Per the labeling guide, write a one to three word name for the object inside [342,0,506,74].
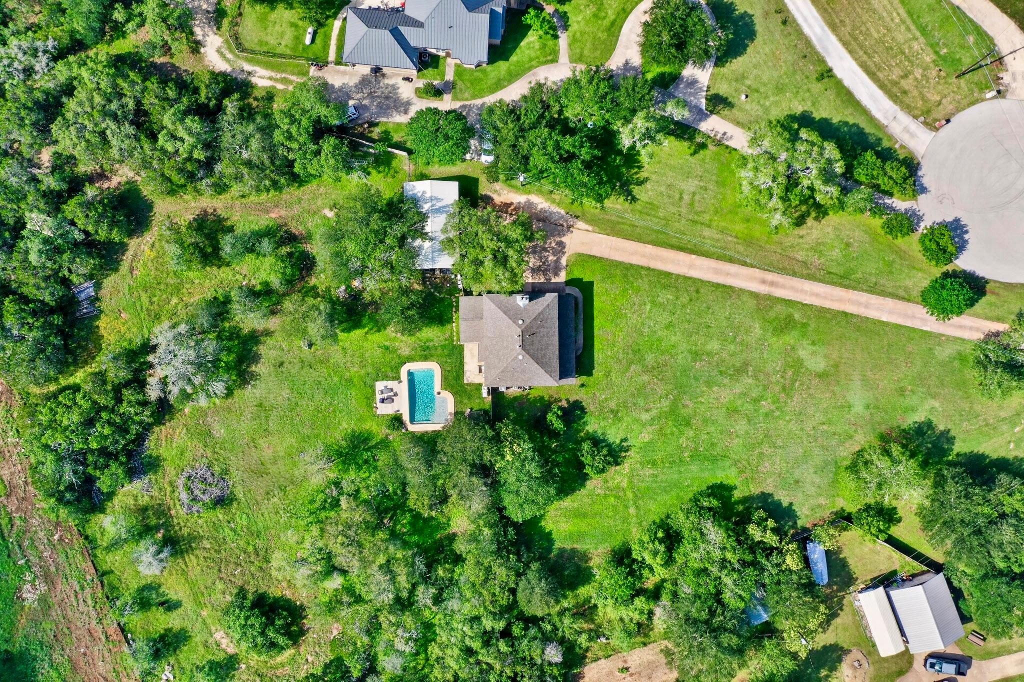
house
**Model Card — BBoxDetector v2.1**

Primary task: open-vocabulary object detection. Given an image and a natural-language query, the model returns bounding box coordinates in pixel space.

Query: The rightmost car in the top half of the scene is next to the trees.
[477,126,494,163]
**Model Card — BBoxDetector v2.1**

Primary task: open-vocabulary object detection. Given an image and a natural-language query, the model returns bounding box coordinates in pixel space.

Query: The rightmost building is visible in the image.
[880,569,965,654]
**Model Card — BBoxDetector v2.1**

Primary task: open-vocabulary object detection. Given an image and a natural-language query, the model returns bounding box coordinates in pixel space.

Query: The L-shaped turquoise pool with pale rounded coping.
[400,362,454,431]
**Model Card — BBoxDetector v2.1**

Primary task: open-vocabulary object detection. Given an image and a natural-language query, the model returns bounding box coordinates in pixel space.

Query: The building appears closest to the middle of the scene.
[459,293,576,387]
